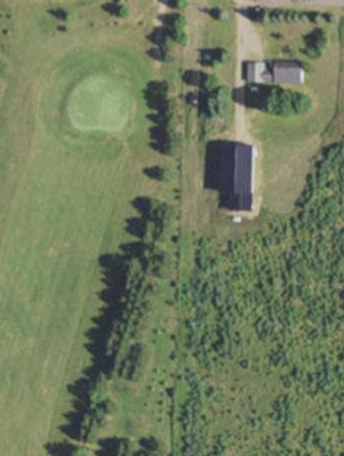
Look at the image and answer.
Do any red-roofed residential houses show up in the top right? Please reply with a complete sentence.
No, there is no red-roofed residential house in the top right.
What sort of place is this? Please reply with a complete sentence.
It's a golf course.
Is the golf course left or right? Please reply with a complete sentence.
The golf course appears in the left half of the scene.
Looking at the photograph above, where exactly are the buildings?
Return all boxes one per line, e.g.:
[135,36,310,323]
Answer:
[219,145,256,210]
[248,60,303,84]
